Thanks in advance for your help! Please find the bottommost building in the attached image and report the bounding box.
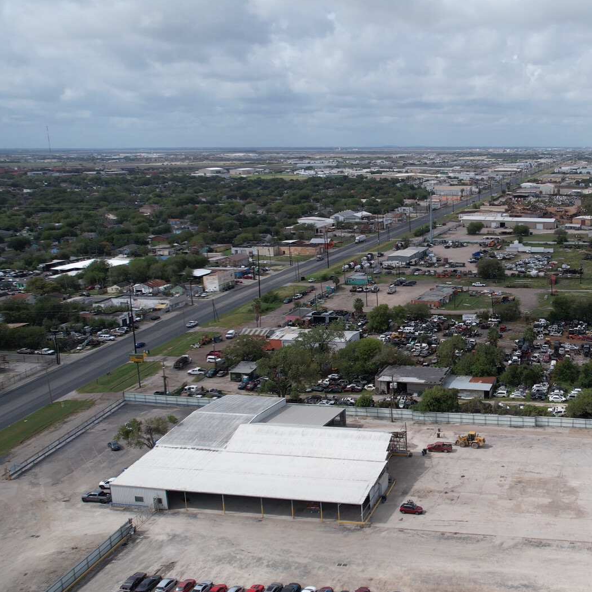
[105,396,405,524]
